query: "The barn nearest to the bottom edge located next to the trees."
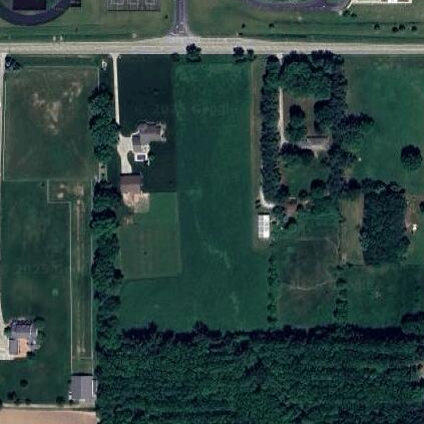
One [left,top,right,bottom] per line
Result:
[69,374,94,401]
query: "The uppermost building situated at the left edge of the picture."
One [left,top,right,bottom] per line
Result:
[9,319,37,354]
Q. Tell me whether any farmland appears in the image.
Yes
